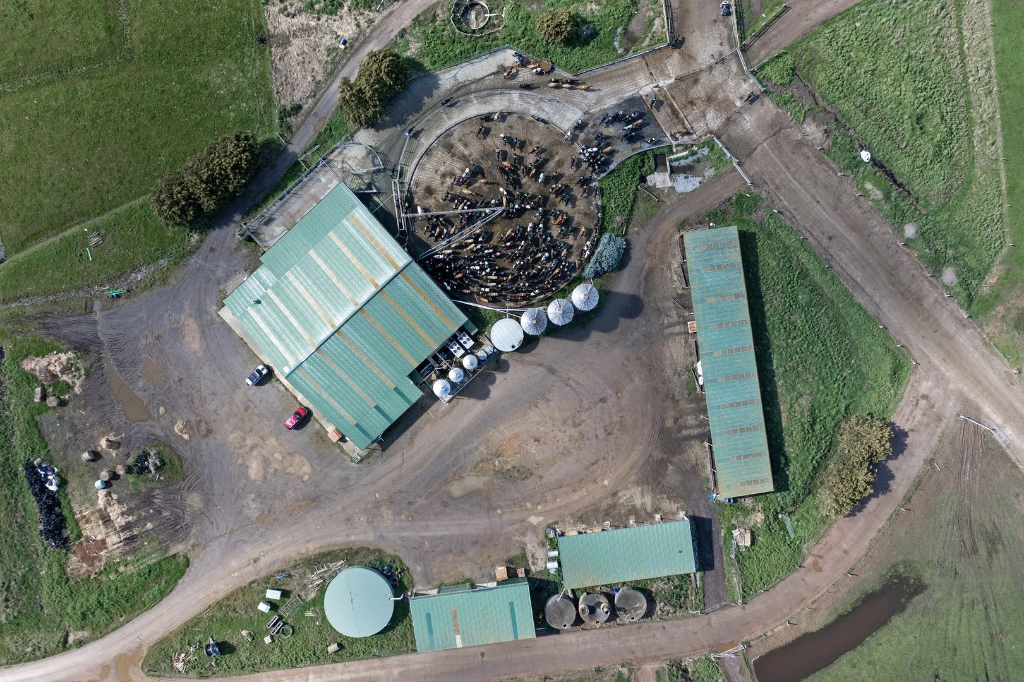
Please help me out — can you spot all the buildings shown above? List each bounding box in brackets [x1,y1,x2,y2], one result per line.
[558,511,695,602]
[409,573,536,654]
[223,155,468,450]
[677,226,774,499]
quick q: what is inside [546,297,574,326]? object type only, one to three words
silo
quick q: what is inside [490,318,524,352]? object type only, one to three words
storage tank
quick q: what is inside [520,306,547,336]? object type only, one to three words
silo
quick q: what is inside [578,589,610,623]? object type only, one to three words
storage tank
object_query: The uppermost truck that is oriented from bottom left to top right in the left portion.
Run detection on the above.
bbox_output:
[242,363,272,388]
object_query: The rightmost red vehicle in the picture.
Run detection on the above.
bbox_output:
[282,406,309,431]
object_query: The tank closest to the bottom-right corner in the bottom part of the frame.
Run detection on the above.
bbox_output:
[613,585,647,621]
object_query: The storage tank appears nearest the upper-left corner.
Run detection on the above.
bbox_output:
[463,0,499,30]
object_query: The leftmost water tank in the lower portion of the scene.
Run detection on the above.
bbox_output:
[324,562,405,637]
